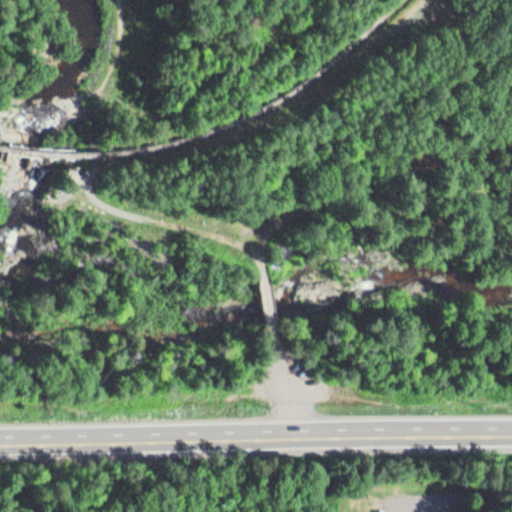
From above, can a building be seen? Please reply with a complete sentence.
No, there's no building here.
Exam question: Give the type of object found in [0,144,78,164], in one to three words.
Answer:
bridge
